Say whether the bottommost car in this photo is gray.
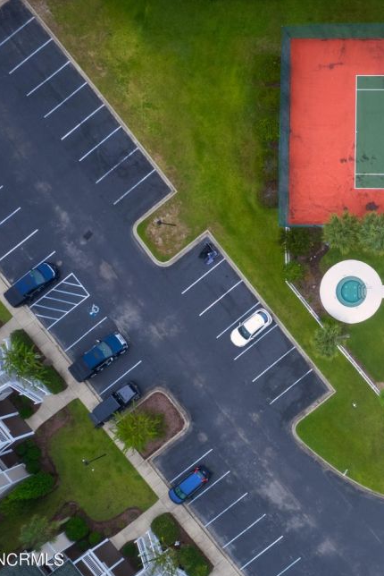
No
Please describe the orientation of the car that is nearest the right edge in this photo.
at an angle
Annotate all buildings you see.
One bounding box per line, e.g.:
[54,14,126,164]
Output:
[1,529,183,576]
[0,340,51,495]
